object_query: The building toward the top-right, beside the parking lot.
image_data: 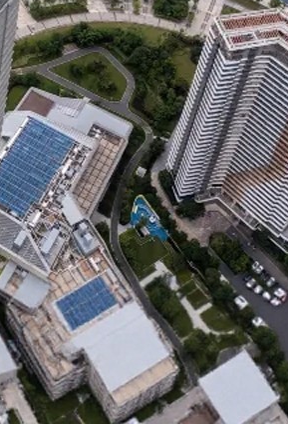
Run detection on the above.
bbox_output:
[167,2,288,224]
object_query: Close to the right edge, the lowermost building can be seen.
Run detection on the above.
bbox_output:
[196,350,279,424]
